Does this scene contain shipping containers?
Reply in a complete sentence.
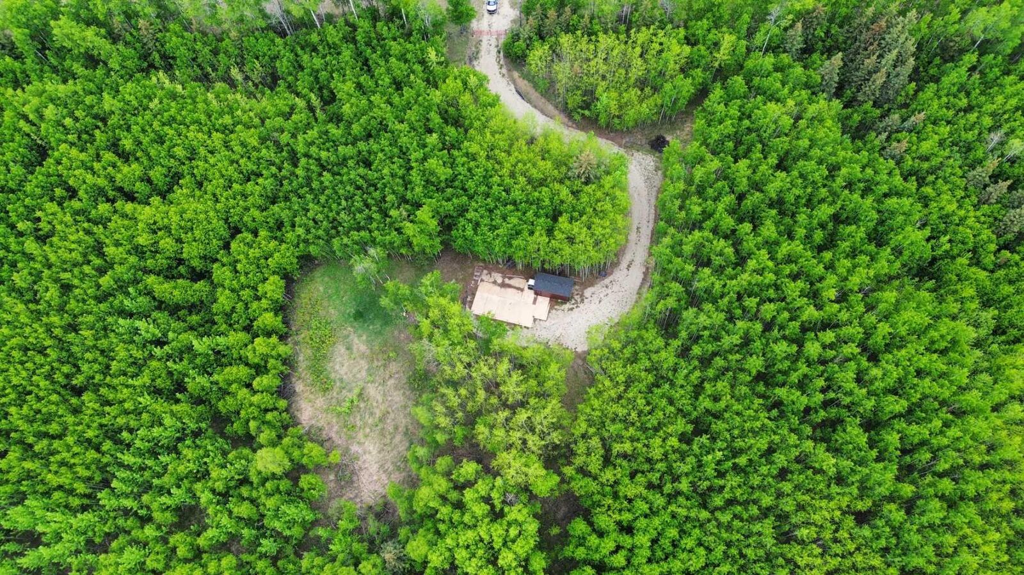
No, there's no shipping container here.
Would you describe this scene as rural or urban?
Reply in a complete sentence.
It looks rural.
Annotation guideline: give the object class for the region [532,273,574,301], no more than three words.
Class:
shed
